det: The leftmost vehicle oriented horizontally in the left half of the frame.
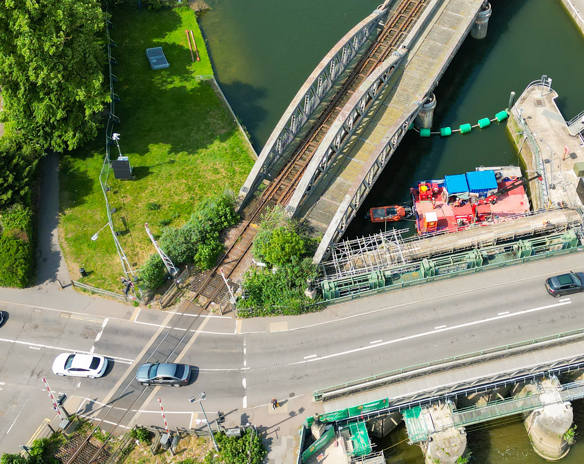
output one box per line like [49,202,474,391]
[51,350,111,379]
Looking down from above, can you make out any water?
Yes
